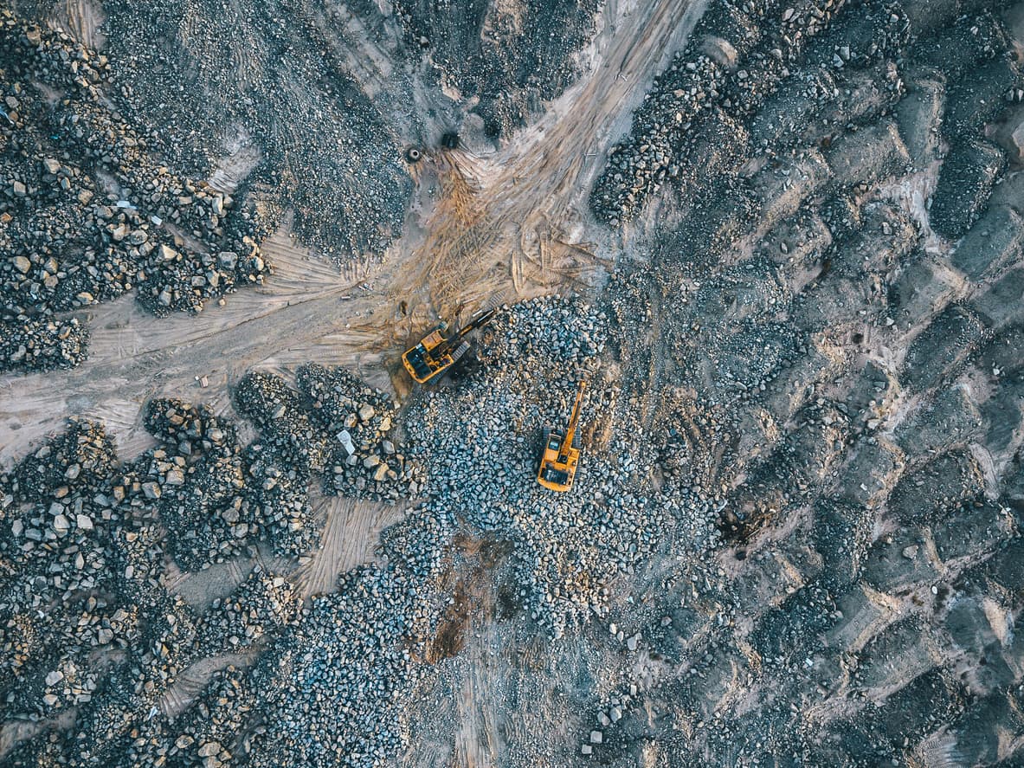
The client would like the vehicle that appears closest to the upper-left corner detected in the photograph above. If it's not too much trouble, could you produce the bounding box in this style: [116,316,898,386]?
[402,308,505,389]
